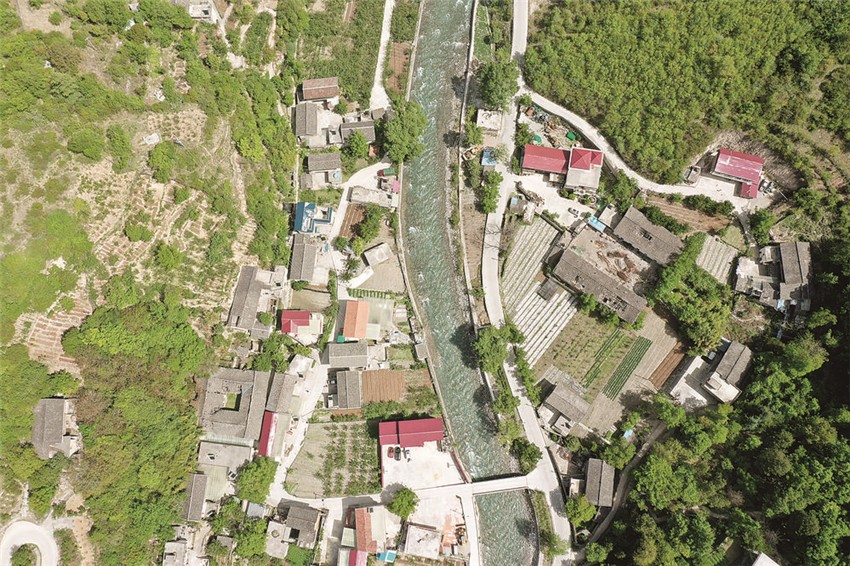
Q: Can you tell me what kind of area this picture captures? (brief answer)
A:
residential area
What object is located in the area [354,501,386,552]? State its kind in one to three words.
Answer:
house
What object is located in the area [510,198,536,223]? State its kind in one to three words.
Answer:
shed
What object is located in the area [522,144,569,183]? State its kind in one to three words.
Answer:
building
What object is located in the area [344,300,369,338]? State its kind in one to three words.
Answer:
barn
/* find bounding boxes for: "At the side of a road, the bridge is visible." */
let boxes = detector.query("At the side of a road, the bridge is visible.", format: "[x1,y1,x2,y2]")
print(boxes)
[470,475,530,495]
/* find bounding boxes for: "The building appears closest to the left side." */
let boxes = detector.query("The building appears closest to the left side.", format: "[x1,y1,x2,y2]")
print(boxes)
[31,398,84,458]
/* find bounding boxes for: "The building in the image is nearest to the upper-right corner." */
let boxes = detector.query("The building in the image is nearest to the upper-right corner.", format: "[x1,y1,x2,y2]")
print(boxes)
[709,148,765,198]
